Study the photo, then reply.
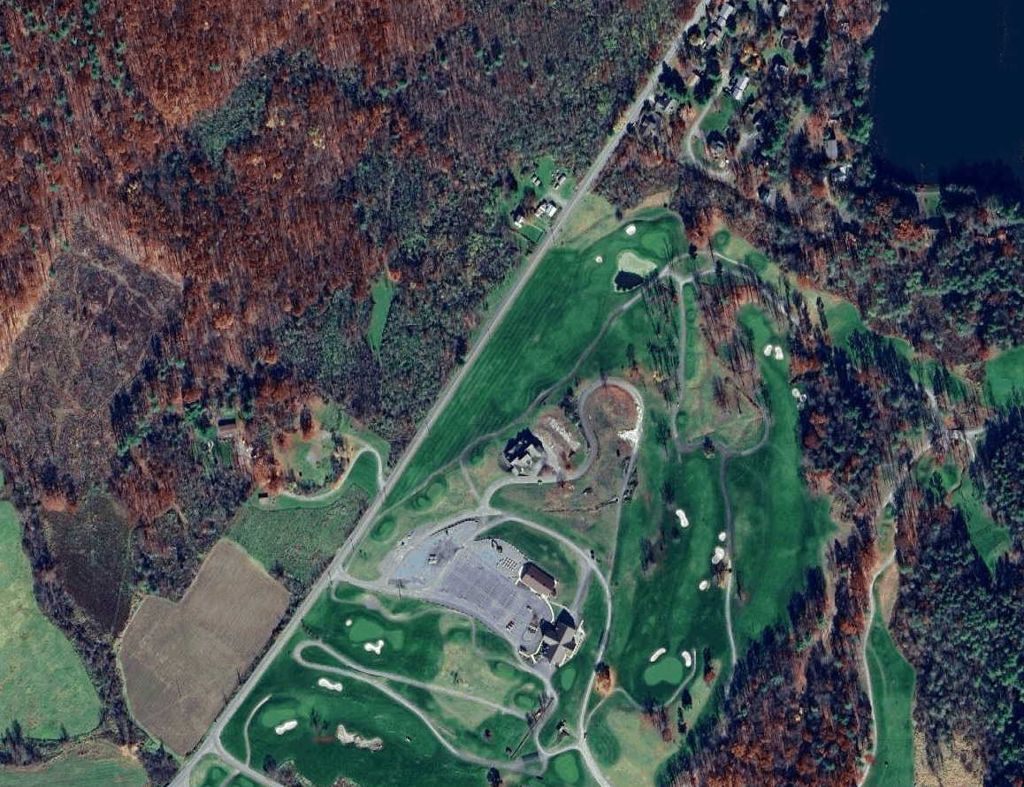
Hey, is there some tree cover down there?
Yes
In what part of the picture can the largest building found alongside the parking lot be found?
bottom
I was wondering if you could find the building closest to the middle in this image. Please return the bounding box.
[505,437,539,476]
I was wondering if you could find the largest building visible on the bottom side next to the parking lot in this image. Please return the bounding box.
[541,621,577,668]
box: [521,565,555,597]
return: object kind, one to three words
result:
barn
